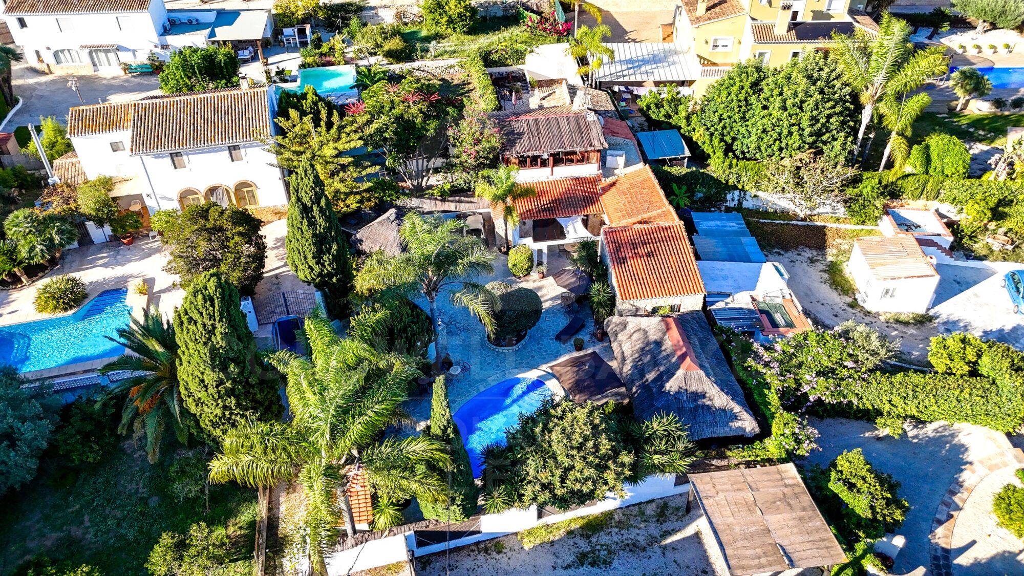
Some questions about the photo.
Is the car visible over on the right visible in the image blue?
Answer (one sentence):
Yes, blue is the color of the car visible over on the right.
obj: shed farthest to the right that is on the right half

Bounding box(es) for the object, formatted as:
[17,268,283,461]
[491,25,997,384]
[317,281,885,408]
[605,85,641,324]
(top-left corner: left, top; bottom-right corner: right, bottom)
[839,236,941,317]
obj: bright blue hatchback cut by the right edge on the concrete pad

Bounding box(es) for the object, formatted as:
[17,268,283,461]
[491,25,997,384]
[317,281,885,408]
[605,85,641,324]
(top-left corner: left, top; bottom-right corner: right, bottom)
[1004,266,1024,314]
